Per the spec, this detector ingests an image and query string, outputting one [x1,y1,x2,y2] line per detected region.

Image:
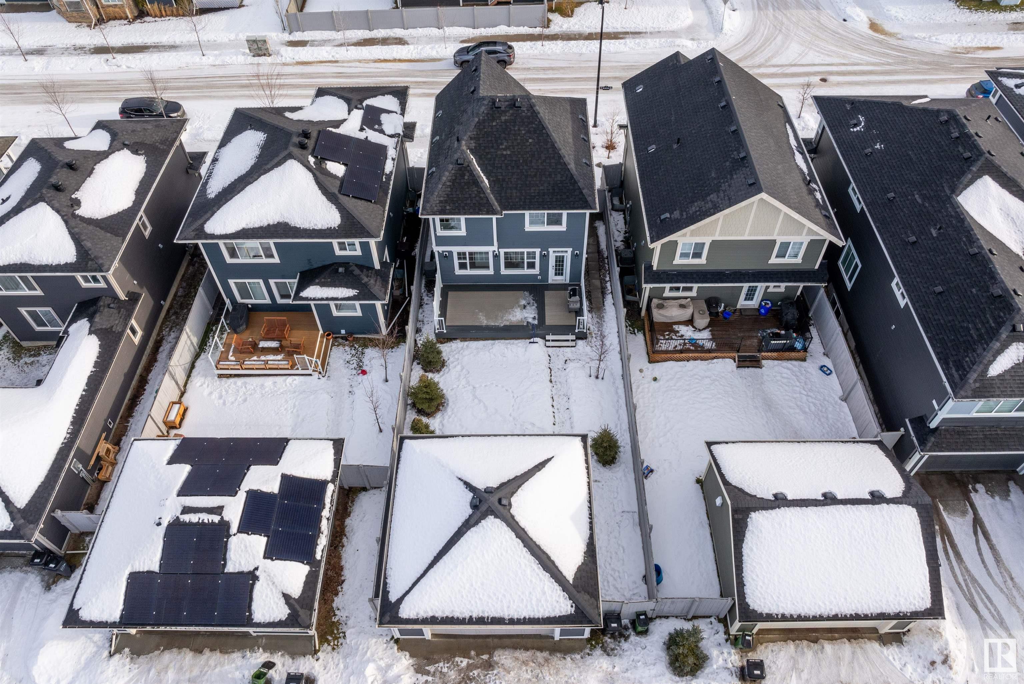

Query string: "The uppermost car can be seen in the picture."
[455,37,518,70]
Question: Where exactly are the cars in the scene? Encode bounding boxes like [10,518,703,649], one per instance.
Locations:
[971,74,994,98]
[120,90,194,119]
[455,37,518,70]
